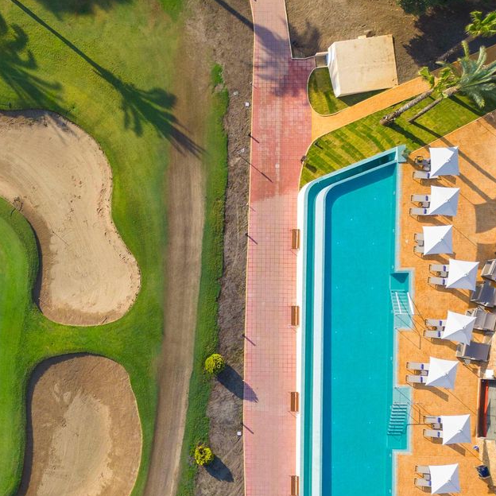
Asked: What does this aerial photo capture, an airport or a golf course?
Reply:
golf course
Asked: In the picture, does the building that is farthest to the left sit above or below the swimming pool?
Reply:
above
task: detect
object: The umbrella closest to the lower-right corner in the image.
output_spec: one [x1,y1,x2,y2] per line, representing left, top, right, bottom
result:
[429,464,459,494]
